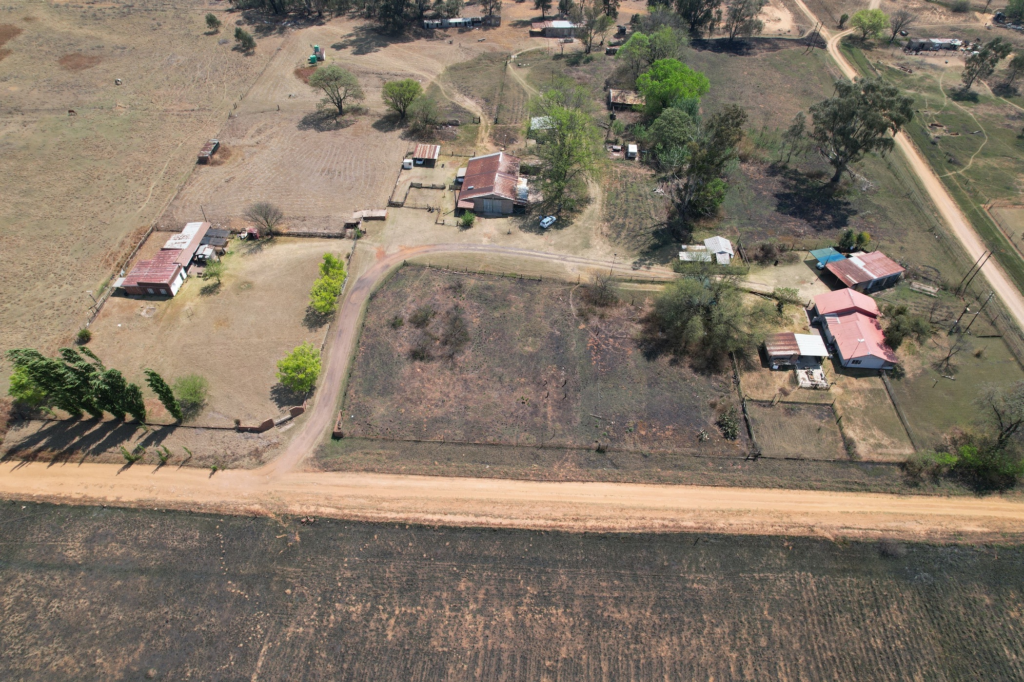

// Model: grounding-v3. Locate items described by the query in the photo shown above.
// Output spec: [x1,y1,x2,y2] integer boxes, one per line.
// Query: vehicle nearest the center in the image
[539,216,557,229]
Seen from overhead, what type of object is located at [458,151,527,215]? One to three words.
barn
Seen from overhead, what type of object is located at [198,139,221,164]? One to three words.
shed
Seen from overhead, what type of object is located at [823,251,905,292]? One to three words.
building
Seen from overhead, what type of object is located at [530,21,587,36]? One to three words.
house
